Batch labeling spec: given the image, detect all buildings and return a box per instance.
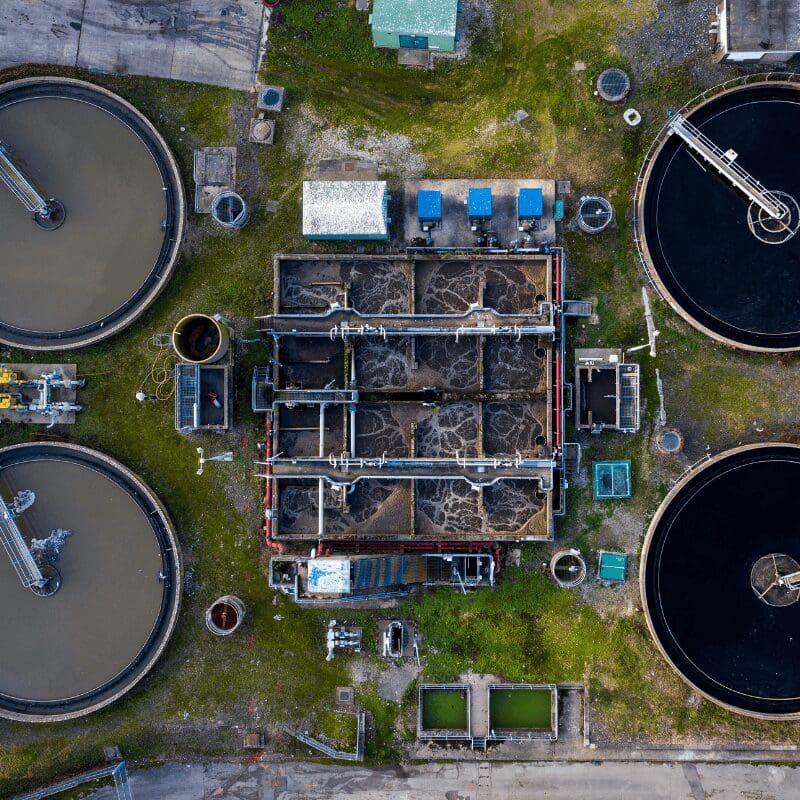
[302,180,388,240]
[708,0,800,64]
[369,0,463,49]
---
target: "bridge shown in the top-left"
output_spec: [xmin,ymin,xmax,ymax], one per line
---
[0,150,52,217]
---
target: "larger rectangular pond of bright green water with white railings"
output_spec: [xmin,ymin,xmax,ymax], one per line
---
[486,679,558,739]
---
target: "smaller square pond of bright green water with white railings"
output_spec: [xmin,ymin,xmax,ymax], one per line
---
[418,679,470,739]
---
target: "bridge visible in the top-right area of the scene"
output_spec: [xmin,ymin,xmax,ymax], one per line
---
[677,119,783,220]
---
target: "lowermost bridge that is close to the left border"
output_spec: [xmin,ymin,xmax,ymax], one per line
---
[0,477,49,578]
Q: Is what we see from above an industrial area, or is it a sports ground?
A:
industrial area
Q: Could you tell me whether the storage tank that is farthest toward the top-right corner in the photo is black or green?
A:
black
